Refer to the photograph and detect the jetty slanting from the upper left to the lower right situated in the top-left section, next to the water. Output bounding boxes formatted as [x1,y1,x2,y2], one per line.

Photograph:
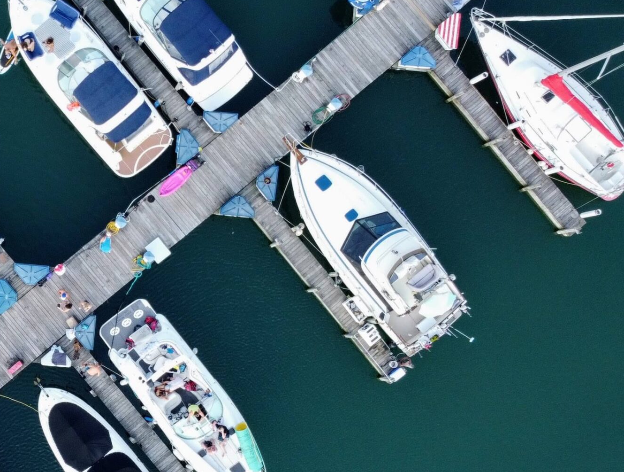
[68,0,217,149]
